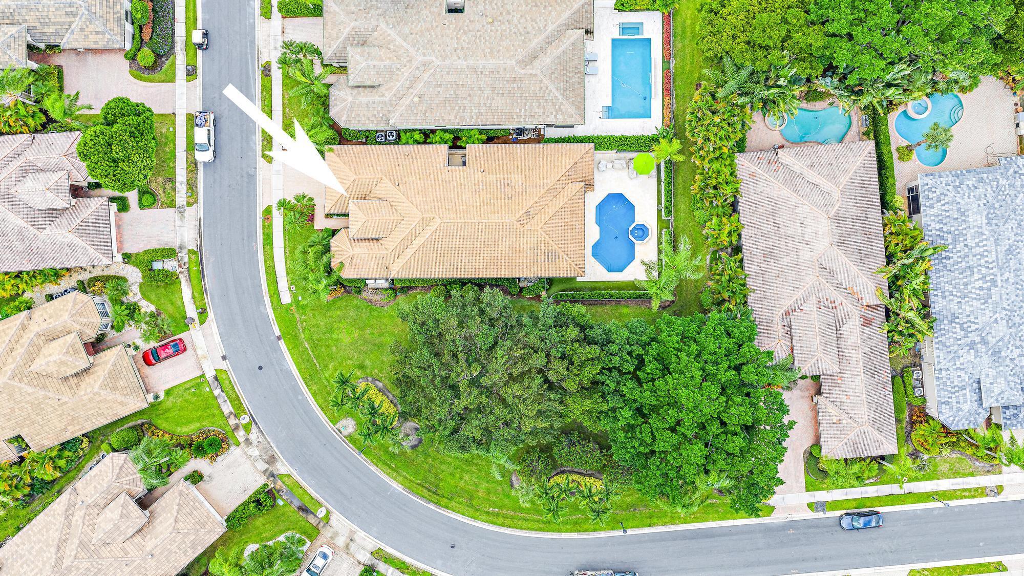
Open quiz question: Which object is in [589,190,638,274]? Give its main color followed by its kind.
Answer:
blue swimming pool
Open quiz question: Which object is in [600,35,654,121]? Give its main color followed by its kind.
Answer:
blue swimming pool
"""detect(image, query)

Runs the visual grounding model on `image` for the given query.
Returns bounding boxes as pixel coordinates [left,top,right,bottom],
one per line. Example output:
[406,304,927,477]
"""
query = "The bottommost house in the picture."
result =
[0,451,228,576]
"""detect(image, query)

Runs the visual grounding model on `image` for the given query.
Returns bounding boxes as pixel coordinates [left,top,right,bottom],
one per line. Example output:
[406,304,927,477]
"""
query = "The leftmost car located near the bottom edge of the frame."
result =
[299,547,330,576]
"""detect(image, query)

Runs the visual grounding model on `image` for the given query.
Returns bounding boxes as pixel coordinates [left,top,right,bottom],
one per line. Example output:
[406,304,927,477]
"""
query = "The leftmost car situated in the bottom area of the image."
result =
[139,338,185,365]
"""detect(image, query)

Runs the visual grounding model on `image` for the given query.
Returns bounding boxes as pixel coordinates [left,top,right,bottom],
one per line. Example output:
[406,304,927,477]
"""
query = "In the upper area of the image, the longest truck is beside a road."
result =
[189,109,215,161]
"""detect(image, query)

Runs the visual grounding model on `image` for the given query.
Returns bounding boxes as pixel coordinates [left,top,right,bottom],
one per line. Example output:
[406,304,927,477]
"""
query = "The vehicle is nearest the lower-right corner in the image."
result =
[842,511,889,535]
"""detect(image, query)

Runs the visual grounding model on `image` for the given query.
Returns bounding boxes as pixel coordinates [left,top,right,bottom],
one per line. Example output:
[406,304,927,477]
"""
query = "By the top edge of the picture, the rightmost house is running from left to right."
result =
[322,0,594,130]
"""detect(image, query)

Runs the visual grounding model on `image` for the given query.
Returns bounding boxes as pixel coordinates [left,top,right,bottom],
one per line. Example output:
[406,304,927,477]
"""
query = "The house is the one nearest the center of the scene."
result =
[324,143,595,279]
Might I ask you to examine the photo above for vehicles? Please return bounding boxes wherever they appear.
[191,28,210,51]
[139,338,185,365]
[189,109,215,161]
[299,547,330,576]
[842,511,889,535]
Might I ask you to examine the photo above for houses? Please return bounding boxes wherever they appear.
[734,140,899,460]
[0,451,228,576]
[0,130,118,272]
[0,0,132,72]
[324,143,595,279]
[906,154,1024,431]
[0,289,153,468]
[322,0,594,130]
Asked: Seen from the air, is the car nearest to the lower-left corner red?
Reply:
Yes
